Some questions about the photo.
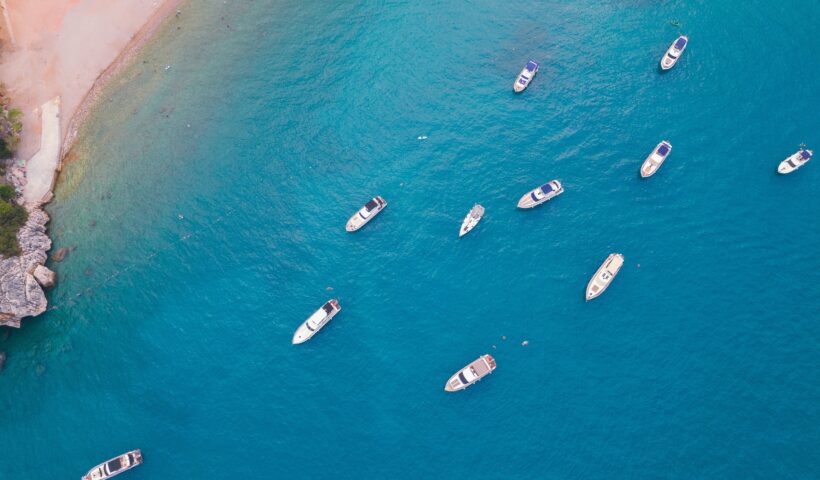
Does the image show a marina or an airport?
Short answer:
marina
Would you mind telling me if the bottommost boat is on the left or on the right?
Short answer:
left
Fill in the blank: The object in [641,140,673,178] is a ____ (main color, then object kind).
white boat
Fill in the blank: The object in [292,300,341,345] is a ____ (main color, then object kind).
white boat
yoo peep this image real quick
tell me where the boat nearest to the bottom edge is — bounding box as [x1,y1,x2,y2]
[80,450,143,480]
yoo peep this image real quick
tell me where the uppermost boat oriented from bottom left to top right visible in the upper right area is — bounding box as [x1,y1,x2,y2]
[661,33,689,70]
